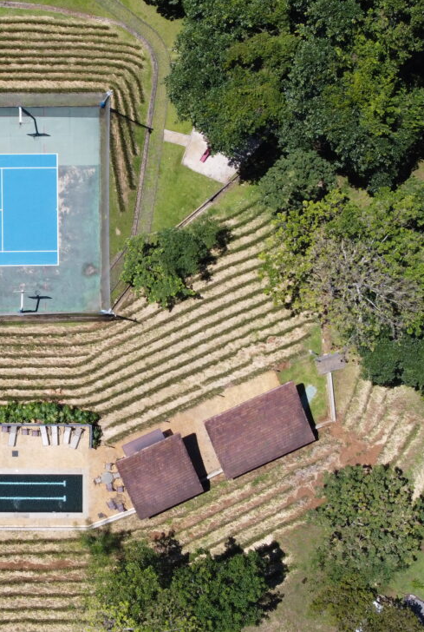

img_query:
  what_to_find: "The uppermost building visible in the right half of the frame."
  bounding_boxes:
[203,383,316,480]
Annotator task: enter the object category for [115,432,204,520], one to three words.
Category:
building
